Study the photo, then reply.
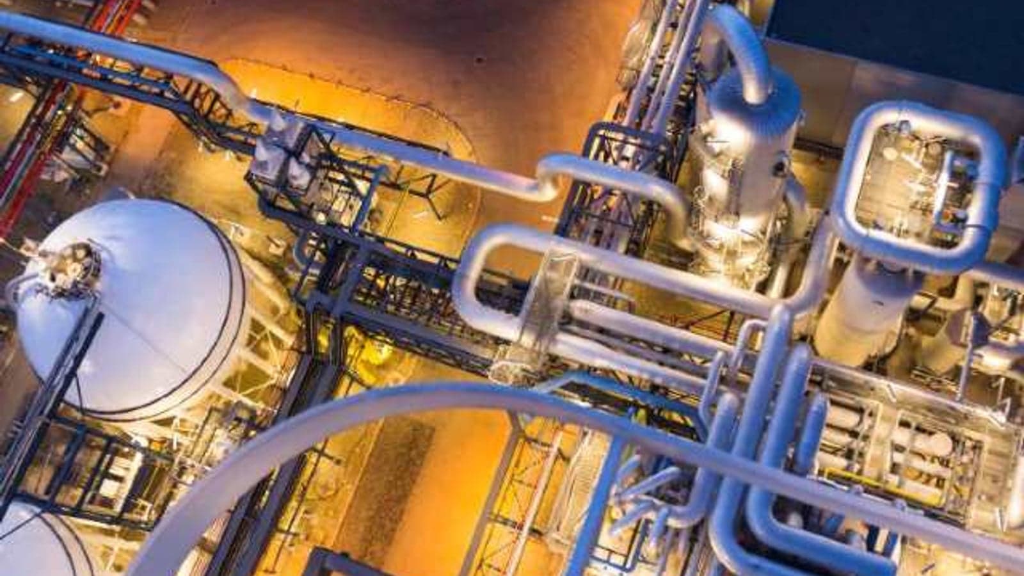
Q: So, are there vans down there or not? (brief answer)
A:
No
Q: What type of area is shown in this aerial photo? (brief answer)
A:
industrial area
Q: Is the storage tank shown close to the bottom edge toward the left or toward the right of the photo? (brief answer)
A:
left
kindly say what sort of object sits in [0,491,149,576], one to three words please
storage tank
